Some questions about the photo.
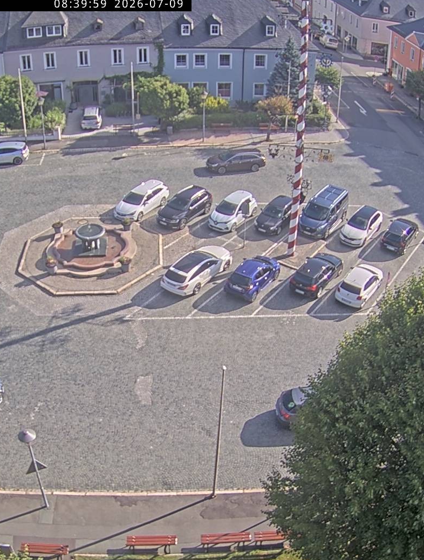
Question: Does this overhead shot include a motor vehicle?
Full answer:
Yes, the photo shows a motor vehicle.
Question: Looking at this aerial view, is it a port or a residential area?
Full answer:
The picture captures a residential area.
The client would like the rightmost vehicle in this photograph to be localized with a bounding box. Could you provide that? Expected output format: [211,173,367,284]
[379,217,421,256]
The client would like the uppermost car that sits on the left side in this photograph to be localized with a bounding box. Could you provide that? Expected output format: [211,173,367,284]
[81,104,103,126]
